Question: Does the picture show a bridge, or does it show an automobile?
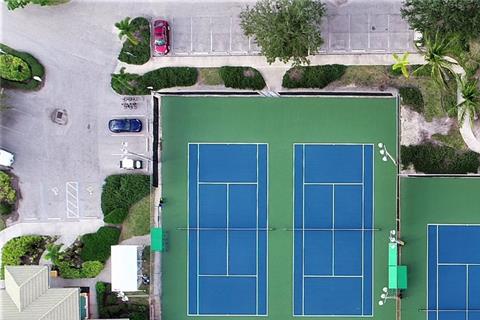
automobile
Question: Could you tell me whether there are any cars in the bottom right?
No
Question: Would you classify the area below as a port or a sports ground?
sports ground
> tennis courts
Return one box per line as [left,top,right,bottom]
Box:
[161,95,281,320]
[400,178,480,320]
[281,95,396,320]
